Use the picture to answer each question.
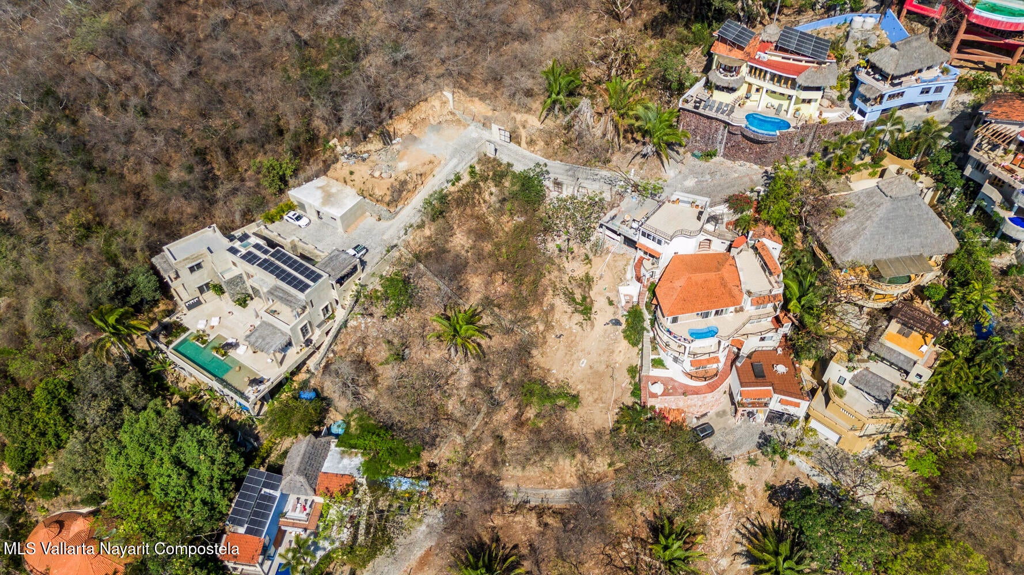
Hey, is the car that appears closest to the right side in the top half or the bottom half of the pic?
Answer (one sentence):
It is in the bottom half that the car that appears closest to the right side appears.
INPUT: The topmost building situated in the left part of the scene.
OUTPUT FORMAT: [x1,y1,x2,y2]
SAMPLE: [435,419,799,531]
[286,175,365,235]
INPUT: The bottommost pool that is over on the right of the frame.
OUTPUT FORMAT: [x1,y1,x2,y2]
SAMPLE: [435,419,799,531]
[690,326,718,339]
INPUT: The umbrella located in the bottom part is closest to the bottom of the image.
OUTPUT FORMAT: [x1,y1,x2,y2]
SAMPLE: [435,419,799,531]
[246,371,260,386]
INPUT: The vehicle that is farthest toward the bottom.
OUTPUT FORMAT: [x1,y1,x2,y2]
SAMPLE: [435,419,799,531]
[690,413,720,443]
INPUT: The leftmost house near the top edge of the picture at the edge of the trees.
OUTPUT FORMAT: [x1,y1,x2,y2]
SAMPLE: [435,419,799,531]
[705,19,836,118]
